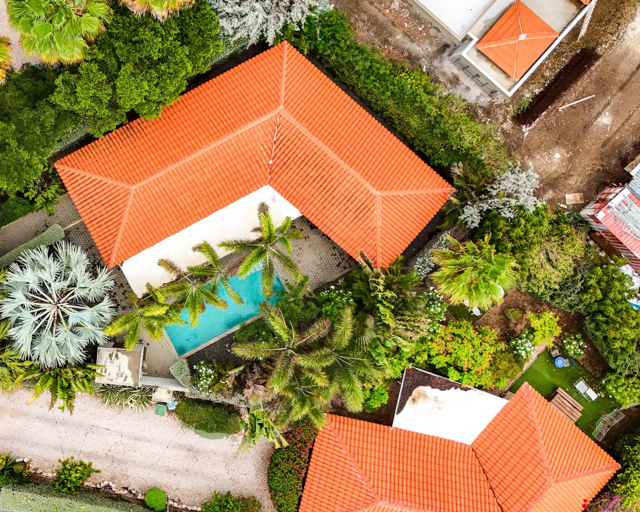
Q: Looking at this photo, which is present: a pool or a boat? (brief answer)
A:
pool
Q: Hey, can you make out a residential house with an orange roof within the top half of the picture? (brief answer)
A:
Yes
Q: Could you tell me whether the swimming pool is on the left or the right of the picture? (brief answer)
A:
left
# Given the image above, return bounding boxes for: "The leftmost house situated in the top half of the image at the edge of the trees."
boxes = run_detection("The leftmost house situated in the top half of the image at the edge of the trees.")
[53,39,454,296]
